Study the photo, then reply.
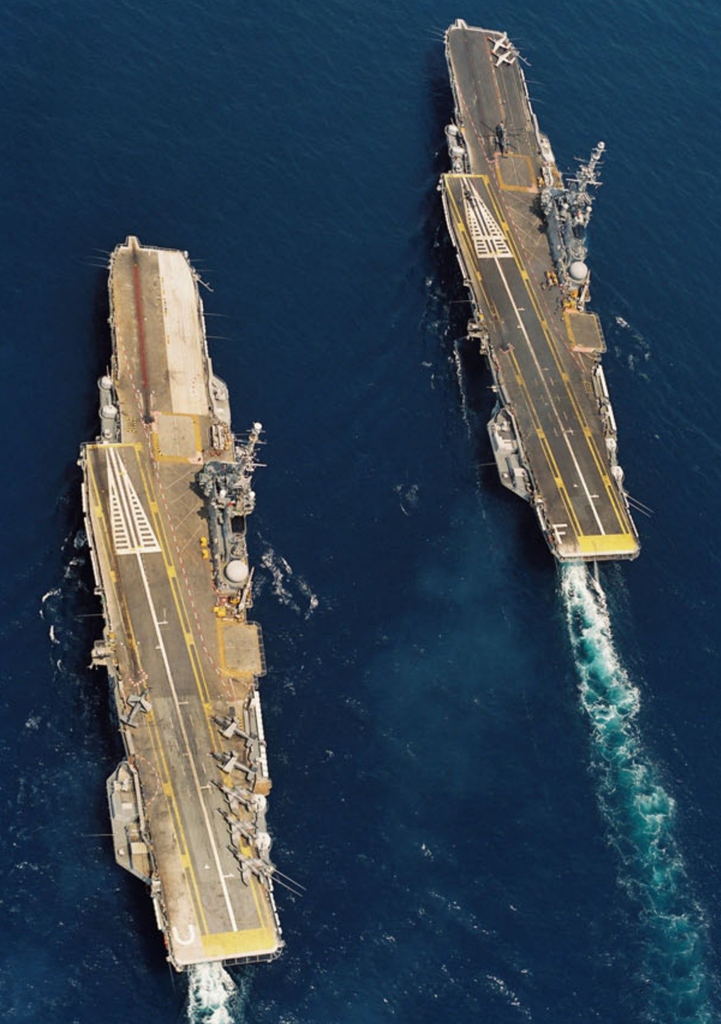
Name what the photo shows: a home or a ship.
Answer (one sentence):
There is a ship in the scene.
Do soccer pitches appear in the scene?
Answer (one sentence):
No, there's no soccer pitch here.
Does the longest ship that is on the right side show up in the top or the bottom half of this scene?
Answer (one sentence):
The top half of the photo is where the longest ship that is on the right side is.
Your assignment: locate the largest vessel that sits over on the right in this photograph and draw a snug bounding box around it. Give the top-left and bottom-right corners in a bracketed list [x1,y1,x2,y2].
[428,18,657,563]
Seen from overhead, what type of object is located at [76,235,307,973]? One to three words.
ship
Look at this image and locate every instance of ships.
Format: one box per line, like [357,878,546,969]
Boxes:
[76,235,307,973]
[428,18,657,563]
